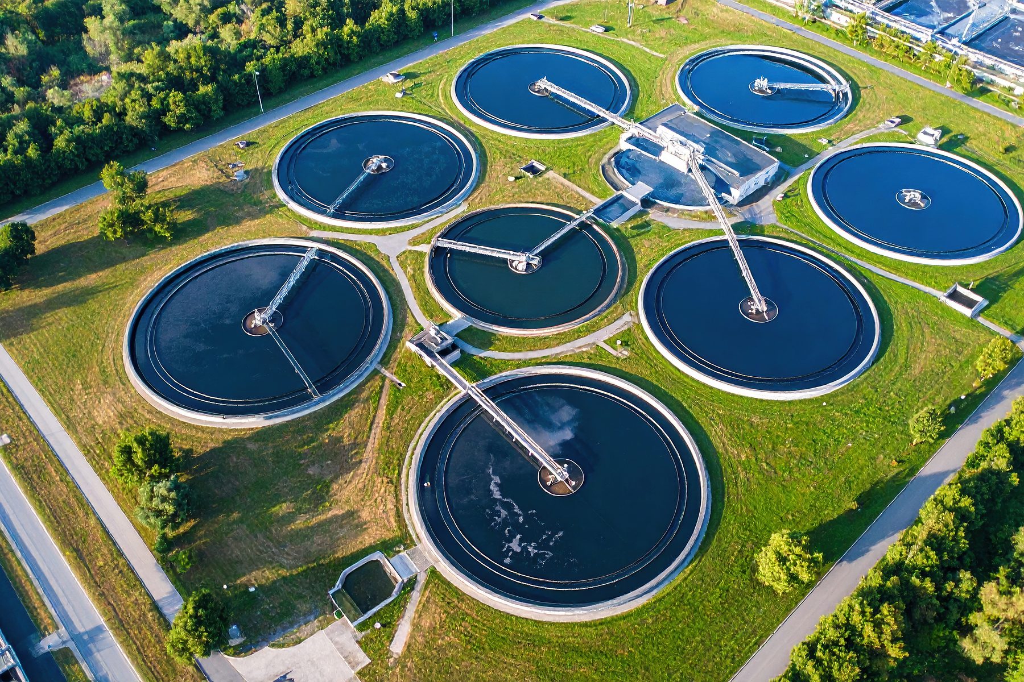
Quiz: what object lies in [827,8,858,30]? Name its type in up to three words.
shed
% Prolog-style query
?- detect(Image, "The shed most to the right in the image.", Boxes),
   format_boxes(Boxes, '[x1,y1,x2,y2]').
[917,119,945,146]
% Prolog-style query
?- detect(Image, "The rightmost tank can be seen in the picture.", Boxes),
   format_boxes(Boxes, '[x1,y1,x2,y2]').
[807,144,1019,267]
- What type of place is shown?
industrial area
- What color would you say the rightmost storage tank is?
blue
